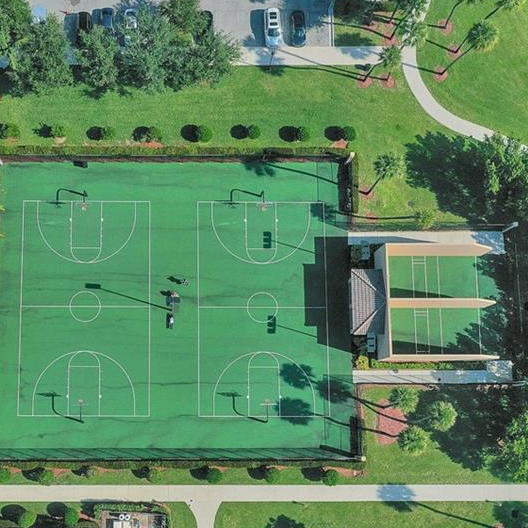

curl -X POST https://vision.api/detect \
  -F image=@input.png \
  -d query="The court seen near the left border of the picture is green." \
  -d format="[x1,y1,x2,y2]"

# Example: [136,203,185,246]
[0,163,174,458]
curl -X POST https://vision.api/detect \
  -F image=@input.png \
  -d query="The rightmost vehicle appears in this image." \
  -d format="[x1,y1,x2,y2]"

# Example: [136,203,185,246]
[289,11,307,47]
